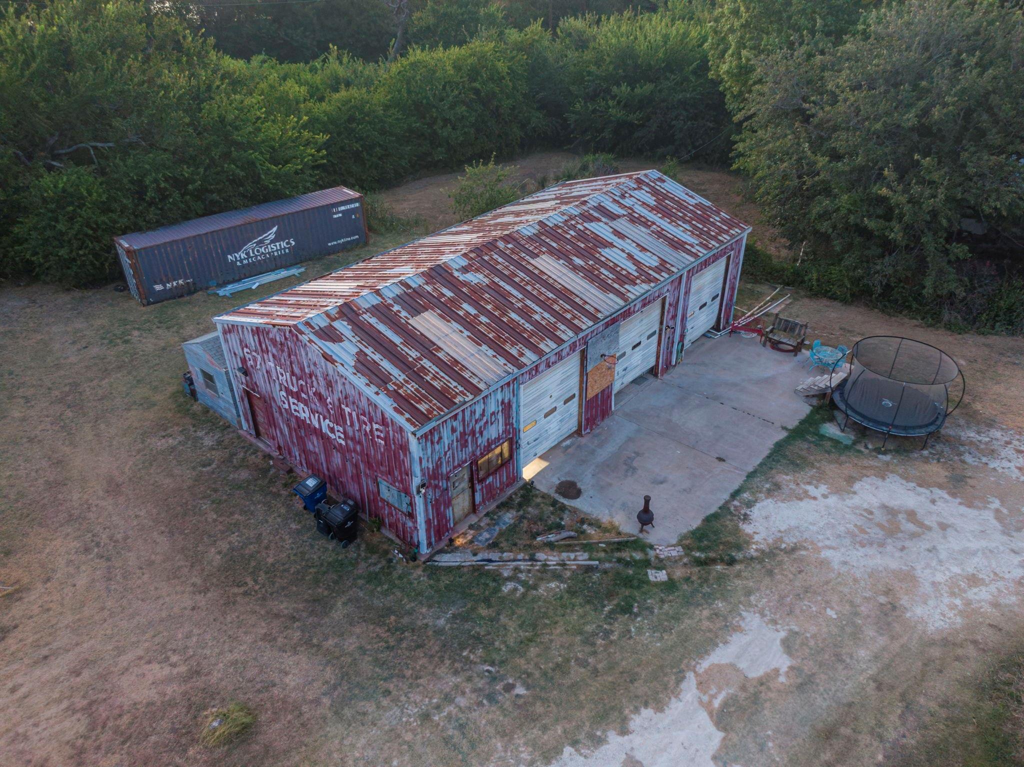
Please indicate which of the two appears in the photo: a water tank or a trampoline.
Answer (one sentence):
There is a trampoline in the scene.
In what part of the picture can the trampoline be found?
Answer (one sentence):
You can find the trampoline in the right area of the picture.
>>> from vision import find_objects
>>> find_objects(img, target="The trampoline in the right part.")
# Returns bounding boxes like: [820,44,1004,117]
[823,335,959,457]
